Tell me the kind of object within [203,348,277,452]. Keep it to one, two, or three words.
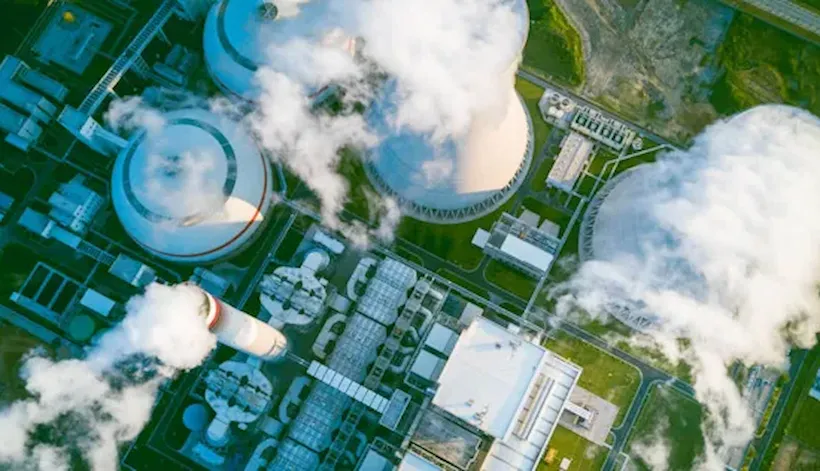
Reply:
house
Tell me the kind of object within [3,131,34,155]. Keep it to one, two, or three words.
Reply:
shed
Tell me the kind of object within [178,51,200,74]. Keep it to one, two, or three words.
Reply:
house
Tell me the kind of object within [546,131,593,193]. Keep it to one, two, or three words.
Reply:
building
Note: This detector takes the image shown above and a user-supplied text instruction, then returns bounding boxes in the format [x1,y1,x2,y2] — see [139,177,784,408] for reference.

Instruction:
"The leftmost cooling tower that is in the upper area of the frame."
[360,0,535,224]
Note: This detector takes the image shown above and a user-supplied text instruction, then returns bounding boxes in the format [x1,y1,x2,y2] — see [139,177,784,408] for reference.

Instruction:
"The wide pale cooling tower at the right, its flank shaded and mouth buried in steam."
[581,111,820,340]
